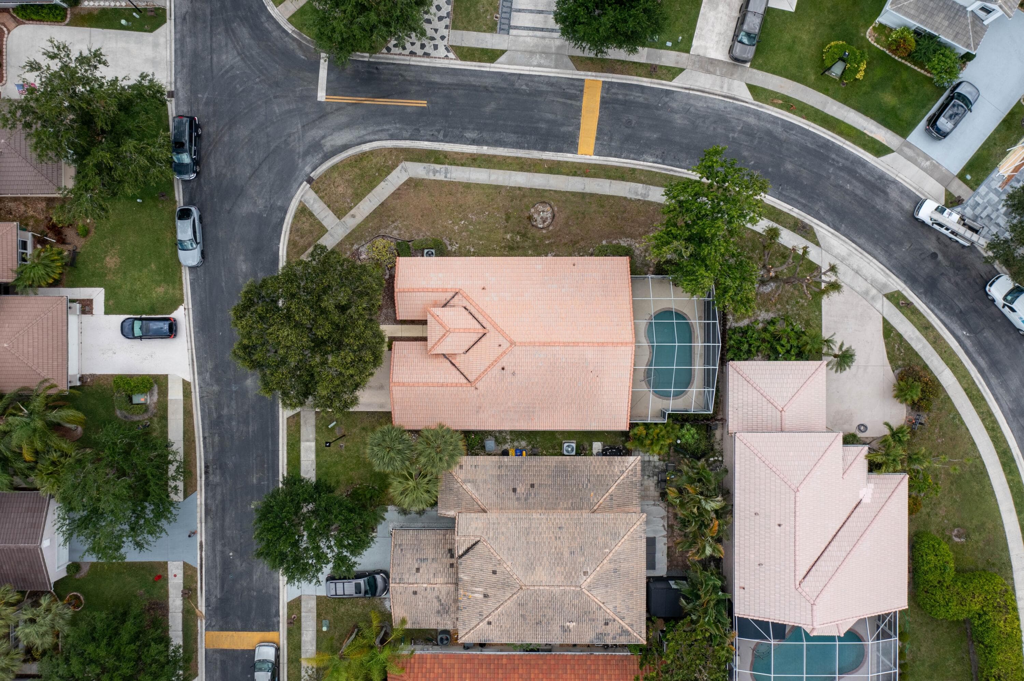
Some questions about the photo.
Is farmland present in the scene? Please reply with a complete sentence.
No, there is no farmland in the image.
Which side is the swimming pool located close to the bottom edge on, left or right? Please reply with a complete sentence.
It is on the right.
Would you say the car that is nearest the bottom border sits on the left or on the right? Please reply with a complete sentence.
The car that is nearest the bottom border sits on the left side.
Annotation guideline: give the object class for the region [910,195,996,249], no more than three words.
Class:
vehicle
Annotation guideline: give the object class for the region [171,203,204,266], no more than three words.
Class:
car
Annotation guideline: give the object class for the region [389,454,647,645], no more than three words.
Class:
house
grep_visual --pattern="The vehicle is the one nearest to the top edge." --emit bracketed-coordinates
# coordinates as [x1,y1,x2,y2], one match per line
[730,0,769,58]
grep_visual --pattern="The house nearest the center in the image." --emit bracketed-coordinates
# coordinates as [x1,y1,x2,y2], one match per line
[390,257,636,432]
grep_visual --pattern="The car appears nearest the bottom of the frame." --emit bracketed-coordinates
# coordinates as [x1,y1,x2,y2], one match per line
[248,643,281,681]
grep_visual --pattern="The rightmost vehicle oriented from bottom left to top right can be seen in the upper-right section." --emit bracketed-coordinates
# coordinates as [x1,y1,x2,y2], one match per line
[930,76,983,141]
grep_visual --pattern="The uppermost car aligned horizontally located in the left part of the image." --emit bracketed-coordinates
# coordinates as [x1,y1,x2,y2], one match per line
[118,313,179,342]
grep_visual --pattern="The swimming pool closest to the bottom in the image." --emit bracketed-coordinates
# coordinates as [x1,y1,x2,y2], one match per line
[749,625,869,681]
